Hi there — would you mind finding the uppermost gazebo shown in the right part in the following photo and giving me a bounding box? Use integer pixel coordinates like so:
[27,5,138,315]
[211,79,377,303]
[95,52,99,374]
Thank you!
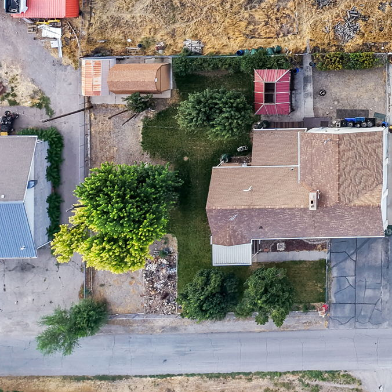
[254,67,296,116]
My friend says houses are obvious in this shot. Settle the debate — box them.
[206,124,392,267]
[0,135,52,260]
